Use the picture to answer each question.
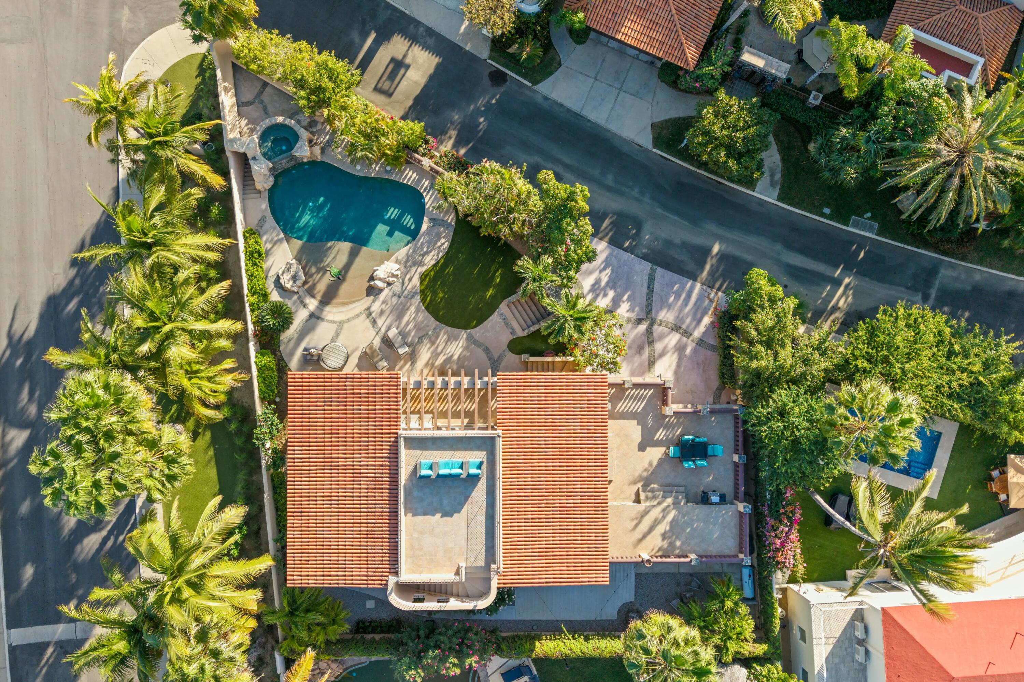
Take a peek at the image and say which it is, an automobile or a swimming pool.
swimming pool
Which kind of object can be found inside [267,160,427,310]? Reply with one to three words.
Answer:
swimming pool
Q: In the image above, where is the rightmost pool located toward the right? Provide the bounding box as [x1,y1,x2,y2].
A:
[800,383,959,499]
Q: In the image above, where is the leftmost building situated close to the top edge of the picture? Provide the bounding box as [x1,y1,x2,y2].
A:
[564,0,725,71]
